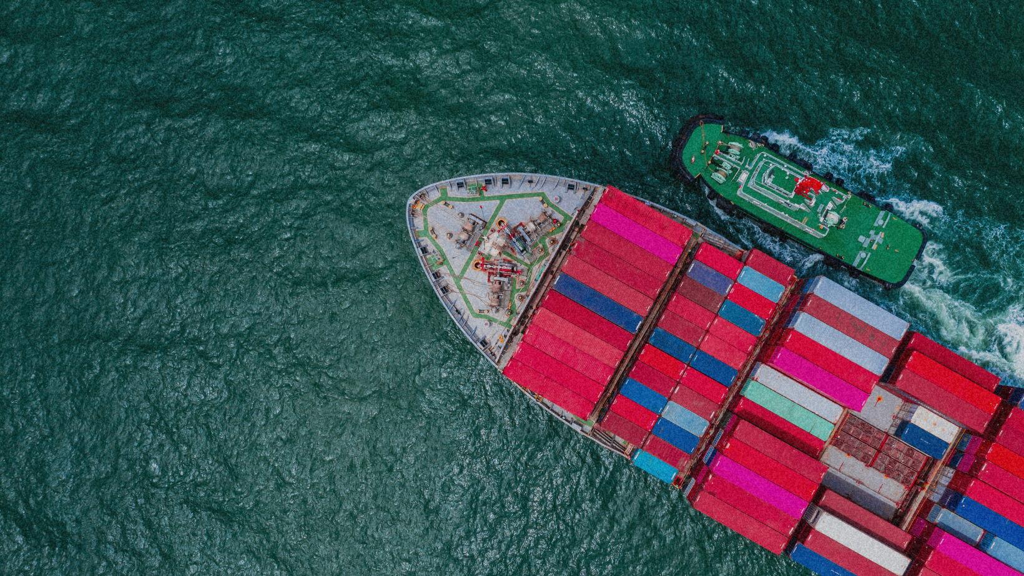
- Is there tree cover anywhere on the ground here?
No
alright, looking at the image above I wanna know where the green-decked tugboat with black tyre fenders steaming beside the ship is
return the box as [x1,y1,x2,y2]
[667,115,928,292]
